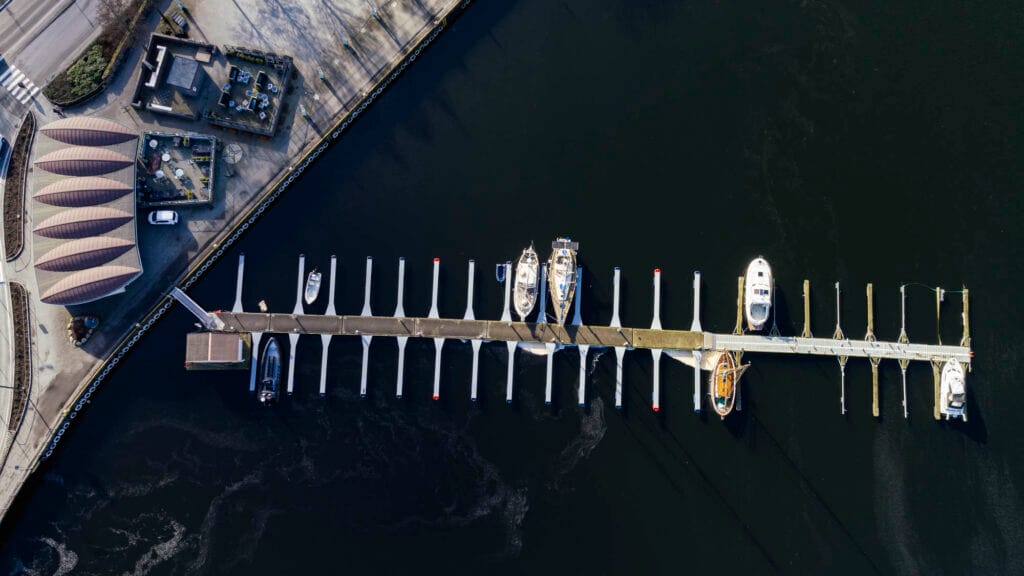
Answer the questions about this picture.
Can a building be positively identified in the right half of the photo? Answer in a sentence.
No, looking in the right half of the photo, there is no building.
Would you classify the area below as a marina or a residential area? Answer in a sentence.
This image shows a marina.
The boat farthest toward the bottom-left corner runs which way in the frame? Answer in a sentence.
From this overhead view, the boat farthest toward the bottom-left corner appears to run from top to bottom.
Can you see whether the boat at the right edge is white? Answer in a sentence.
Yes, the boat at the right edge is white.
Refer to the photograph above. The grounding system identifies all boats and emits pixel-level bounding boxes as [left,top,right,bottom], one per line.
[512,242,541,321]
[709,347,752,420]
[305,269,321,304]
[258,336,282,405]
[741,255,772,335]
[496,263,505,282]
[549,238,580,325]
[940,357,977,421]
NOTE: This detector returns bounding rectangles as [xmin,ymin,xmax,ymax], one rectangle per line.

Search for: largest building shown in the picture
[32,117,151,307]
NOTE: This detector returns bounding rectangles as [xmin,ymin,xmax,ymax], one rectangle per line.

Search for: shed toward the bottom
[186,332,252,370]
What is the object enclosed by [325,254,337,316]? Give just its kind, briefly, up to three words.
pier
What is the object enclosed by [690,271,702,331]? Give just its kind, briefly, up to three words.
pier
